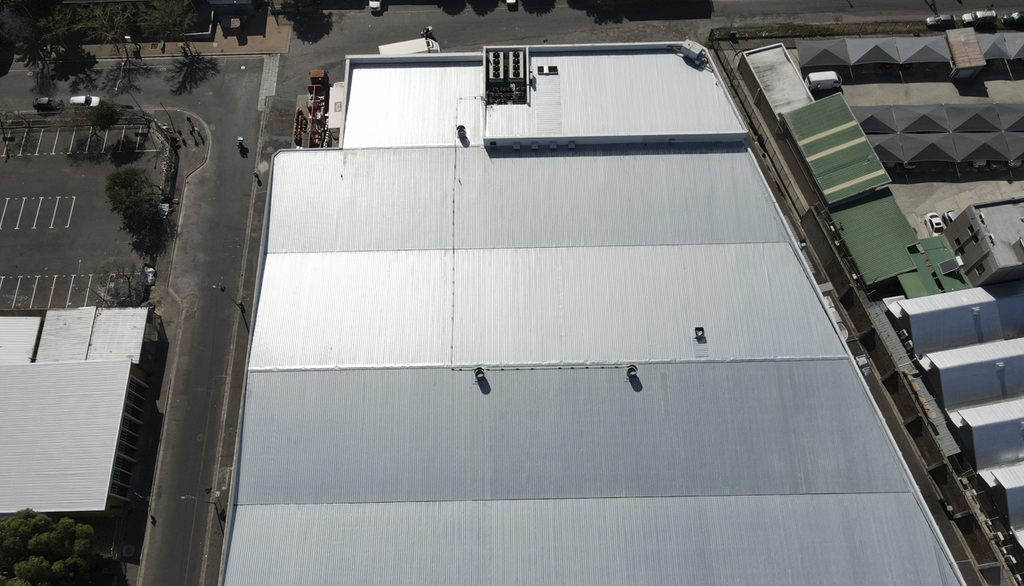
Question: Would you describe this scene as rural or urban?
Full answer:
From above, the setting appears urban.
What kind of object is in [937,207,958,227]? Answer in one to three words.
car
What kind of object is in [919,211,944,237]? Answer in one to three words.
car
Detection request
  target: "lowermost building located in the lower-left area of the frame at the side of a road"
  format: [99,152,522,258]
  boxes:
[0,358,147,515]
